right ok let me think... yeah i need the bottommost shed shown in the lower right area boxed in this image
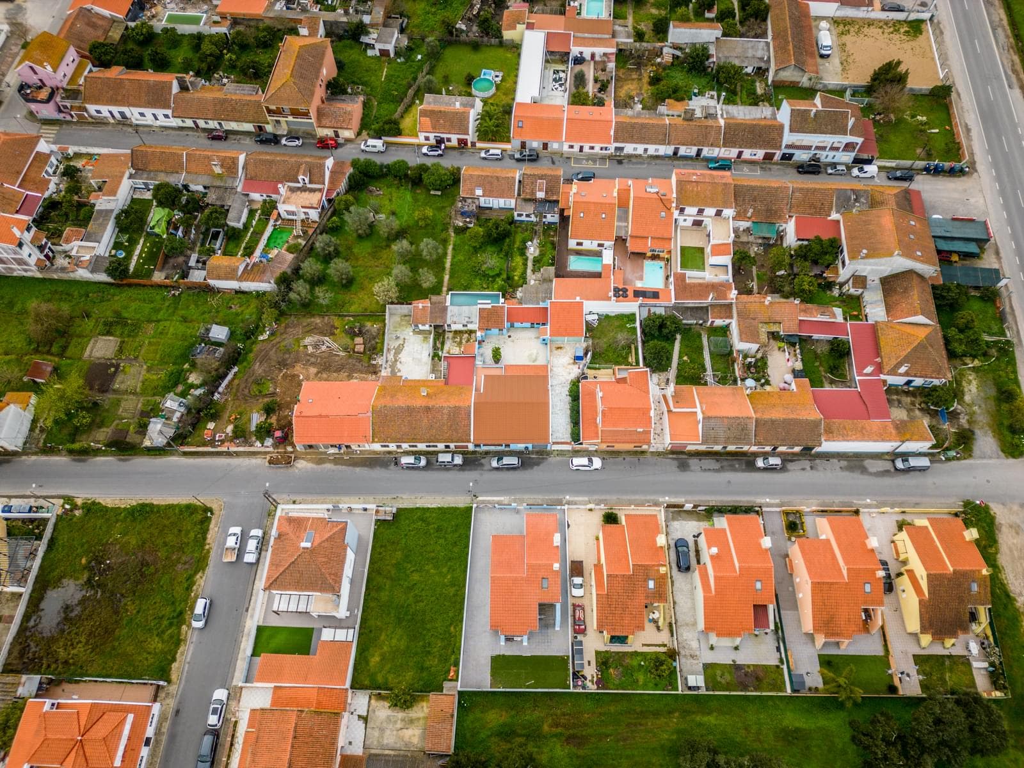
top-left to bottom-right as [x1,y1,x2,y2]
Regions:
[790,671,814,693]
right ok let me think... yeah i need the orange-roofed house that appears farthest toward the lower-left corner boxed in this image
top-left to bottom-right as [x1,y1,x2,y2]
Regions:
[5,699,162,768]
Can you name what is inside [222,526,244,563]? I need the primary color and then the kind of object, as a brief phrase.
white car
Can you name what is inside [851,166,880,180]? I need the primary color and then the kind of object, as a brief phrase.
white car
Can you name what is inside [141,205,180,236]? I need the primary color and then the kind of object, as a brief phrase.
green gazebo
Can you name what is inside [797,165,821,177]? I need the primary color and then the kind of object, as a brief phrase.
black vehicle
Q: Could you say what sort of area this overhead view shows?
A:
residential area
